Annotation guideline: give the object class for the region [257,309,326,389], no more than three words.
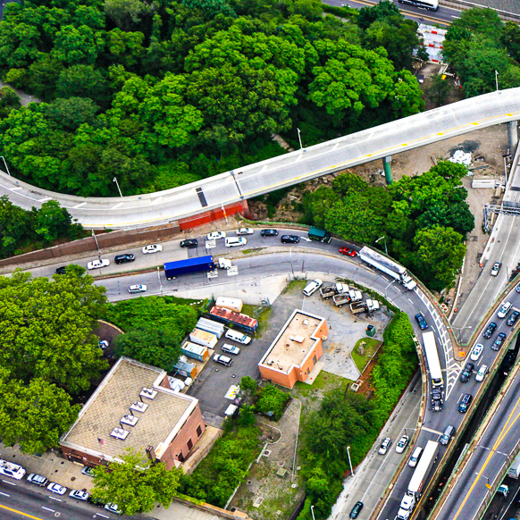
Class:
building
